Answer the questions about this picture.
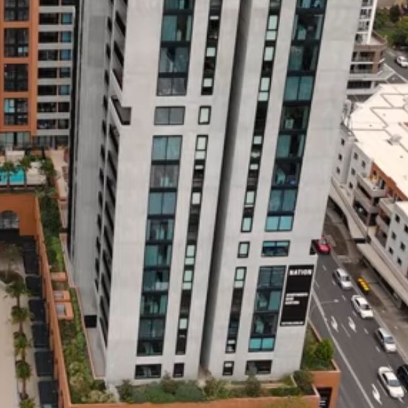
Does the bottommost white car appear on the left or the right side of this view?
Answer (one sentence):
It is on the right.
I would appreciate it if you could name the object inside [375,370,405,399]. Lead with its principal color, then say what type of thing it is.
white car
